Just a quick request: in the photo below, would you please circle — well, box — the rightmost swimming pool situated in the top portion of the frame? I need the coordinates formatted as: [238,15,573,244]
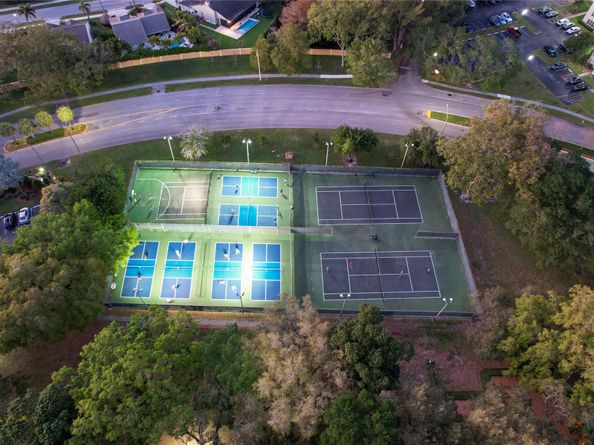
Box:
[234,16,258,32]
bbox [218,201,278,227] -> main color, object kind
blue sports court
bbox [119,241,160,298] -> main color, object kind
blue sports court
